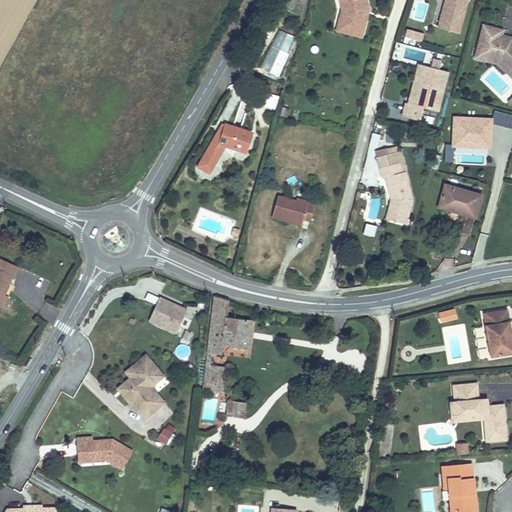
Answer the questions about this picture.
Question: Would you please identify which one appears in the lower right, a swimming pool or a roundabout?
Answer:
swimming pool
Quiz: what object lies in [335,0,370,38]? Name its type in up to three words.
house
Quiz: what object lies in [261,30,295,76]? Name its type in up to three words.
greenhouse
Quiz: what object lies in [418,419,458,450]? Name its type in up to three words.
swimming pool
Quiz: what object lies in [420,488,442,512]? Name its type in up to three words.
swimming pool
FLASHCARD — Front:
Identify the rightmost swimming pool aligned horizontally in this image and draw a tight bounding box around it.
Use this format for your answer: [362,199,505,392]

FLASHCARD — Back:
[454,148,488,165]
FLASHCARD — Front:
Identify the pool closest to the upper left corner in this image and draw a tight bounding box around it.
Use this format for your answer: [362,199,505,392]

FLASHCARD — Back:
[192,207,236,242]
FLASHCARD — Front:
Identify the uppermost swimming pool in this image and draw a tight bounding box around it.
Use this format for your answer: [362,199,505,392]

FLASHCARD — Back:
[409,0,430,22]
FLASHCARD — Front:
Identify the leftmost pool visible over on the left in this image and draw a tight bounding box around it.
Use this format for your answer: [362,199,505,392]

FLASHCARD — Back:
[174,343,192,361]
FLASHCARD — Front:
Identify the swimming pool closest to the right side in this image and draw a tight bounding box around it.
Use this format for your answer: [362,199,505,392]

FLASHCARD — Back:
[480,66,512,103]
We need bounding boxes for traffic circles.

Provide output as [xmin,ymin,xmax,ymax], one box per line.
[82,206,150,272]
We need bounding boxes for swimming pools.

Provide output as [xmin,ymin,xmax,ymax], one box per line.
[409,0,430,22]
[392,43,433,64]
[238,505,260,512]
[420,488,442,512]
[418,419,458,450]
[480,66,512,103]
[442,324,471,365]
[174,343,192,361]
[454,148,488,165]
[192,207,236,242]
[199,396,226,429]
[361,192,382,223]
